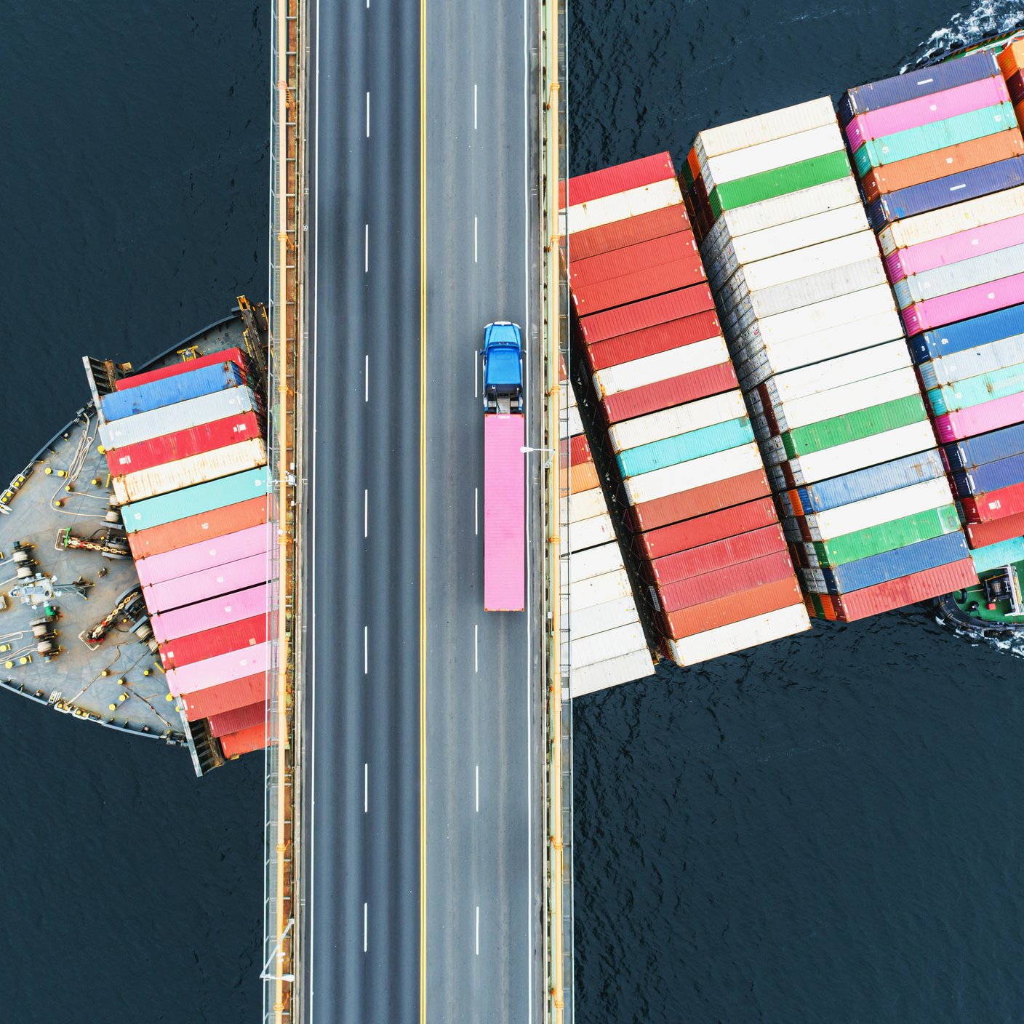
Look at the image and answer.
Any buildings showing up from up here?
No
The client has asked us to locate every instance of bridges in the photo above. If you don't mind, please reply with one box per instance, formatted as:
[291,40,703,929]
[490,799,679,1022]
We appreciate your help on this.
[265,0,575,1024]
